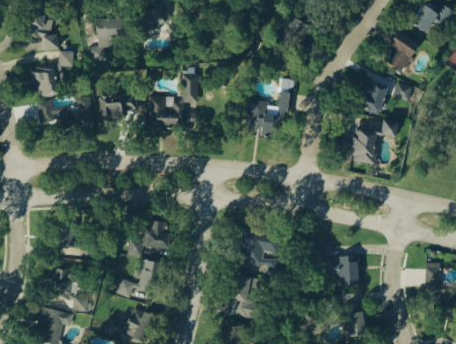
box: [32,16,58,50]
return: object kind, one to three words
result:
house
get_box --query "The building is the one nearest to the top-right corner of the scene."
[413,4,454,34]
